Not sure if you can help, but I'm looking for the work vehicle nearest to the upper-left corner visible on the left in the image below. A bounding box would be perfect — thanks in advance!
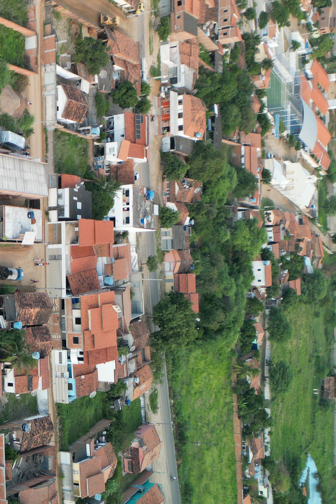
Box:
[100,14,121,33]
